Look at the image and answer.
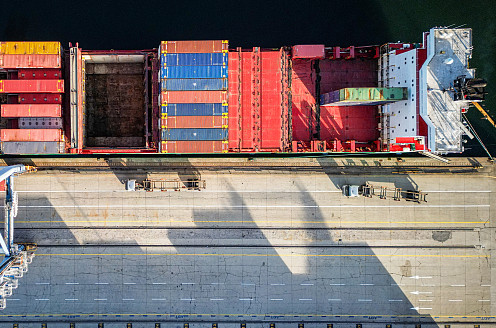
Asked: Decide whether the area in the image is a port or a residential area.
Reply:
port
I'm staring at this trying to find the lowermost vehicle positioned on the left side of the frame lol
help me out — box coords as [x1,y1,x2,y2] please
[127,179,205,191]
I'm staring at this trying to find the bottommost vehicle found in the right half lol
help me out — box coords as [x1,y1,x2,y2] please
[341,182,426,199]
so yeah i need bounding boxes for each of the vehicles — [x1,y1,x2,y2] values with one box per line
[341,182,426,199]
[127,179,205,191]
